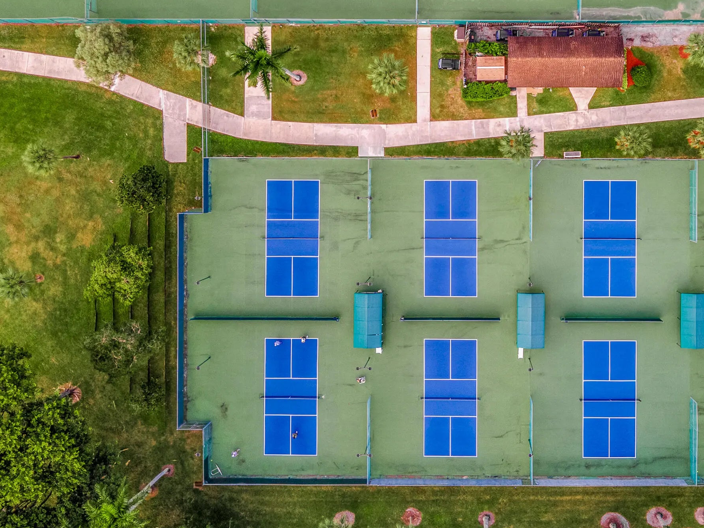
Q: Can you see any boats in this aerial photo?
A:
No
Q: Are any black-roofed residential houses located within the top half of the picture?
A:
No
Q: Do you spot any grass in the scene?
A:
Yes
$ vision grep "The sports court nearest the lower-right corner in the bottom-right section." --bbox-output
[582,341,637,458]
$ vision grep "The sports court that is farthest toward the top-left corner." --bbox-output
[265,179,321,297]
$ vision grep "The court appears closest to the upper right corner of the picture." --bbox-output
[582,180,638,298]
